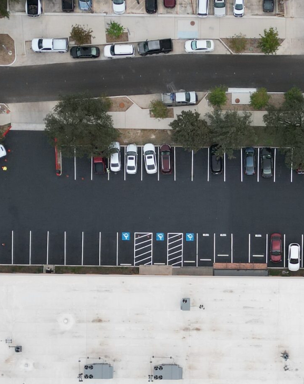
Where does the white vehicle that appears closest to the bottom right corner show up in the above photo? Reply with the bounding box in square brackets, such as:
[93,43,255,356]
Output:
[287,243,302,271]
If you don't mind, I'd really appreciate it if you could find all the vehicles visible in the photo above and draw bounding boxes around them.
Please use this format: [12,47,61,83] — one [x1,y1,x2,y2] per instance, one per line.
[158,143,173,175]
[79,0,92,13]
[142,143,157,175]
[232,0,247,19]
[25,0,41,19]
[70,44,100,60]
[185,39,214,53]
[210,146,223,176]
[212,0,228,18]
[107,141,122,172]
[125,144,138,175]
[161,91,197,106]
[268,233,283,263]
[243,146,255,176]
[287,243,302,271]
[144,0,157,14]
[31,37,70,53]
[103,42,135,59]
[111,0,126,16]
[60,0,74,13]
[138,39,174,55]
[163,0,177,8]
[260,146,273,178]
[262,0,275,14]
[296,164,304,175]
[196,0,209,18]
[93,144,106,176]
